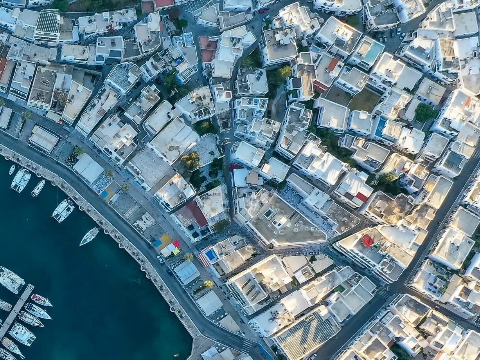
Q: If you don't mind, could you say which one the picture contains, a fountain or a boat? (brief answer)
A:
boat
